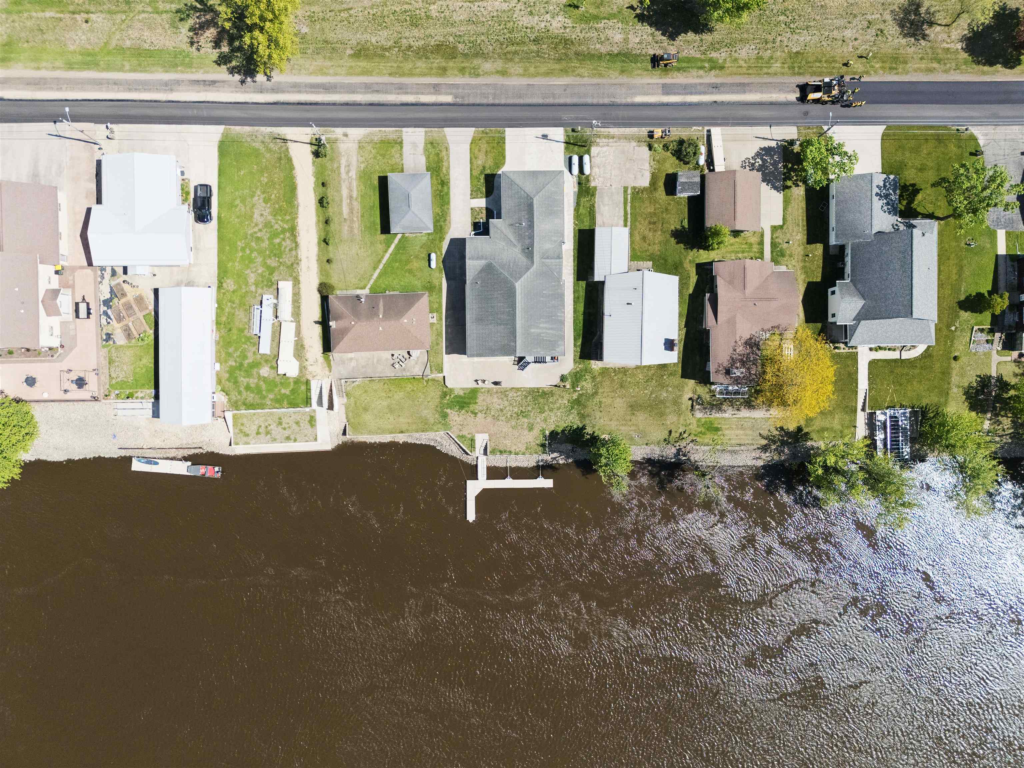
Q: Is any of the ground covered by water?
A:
Yes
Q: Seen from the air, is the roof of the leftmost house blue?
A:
No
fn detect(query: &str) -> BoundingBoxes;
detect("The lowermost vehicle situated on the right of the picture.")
[652,126,672,138]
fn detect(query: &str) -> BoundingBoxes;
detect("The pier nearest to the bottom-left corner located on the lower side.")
[132,457,192,474]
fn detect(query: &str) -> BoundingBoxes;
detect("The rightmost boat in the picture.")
[186,467,221,480]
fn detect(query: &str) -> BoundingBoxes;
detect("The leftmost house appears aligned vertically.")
[0,180,74,351]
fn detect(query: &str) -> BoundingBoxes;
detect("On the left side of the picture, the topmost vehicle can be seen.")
[192,183,211,224]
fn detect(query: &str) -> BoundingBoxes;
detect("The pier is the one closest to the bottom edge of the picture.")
[467,479,553,522]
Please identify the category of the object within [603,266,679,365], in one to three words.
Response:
house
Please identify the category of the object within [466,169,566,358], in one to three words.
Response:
building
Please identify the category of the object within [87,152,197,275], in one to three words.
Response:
house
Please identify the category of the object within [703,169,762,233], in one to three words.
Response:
building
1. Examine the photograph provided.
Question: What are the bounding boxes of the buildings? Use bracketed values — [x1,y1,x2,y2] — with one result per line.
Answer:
[674,170,701,198]
[466,169,566,358]
[328,291,431,354]
[158,287,220,426]
[387,171,434,235]
[827,172,938,346]
[703,169,762,233]
[603,266,679,365]
[0,180,74,351]
[703,258,800,391]
[87,152,197,275]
